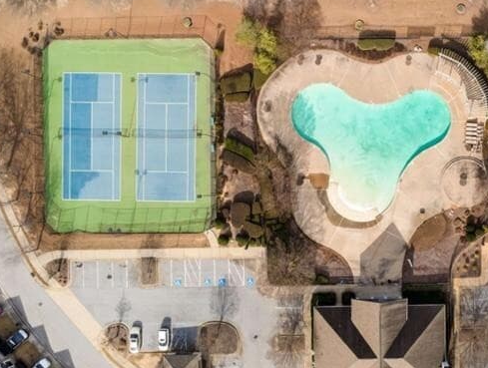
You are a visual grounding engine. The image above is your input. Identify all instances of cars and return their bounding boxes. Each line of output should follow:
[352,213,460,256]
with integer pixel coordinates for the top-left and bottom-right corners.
[29,357,50,368]
[155,328,169,352]
[127,328,140,354]
[0,328,27,350]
